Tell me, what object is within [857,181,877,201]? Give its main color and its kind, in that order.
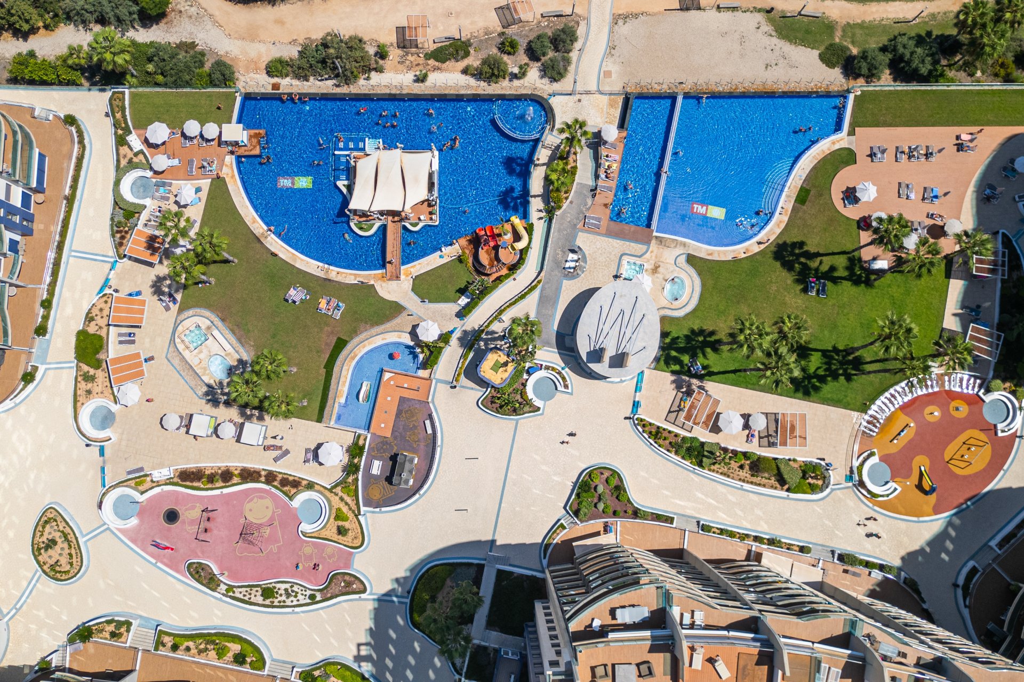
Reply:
white umbrella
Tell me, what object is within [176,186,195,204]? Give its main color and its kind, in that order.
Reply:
white umbrella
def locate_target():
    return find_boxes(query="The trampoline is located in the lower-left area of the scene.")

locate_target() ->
[162,507,180,525]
